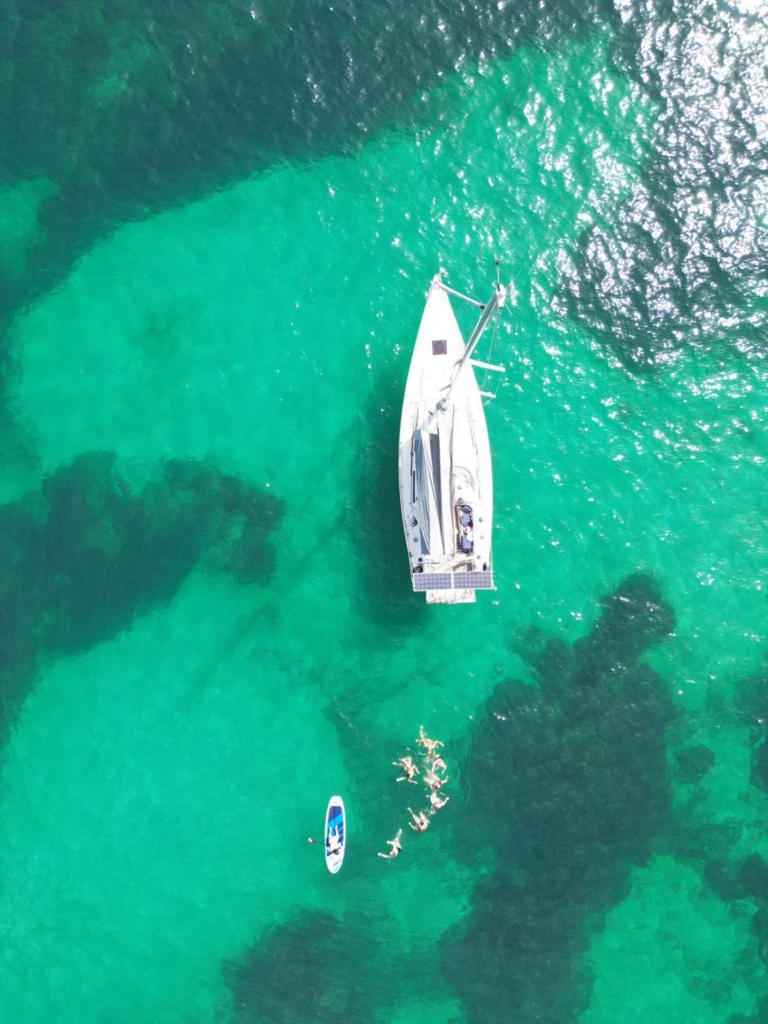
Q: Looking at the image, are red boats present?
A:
No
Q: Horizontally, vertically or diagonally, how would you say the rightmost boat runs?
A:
vertically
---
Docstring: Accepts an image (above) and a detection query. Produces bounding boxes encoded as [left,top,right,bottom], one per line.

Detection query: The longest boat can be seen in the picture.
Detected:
[401,214,518,606]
